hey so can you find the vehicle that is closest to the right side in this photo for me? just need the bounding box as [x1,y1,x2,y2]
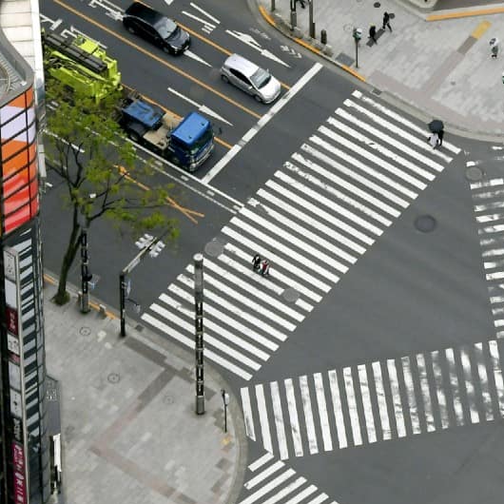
[219,55,283,105]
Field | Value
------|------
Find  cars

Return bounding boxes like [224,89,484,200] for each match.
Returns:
[219,55,283,105]
[118,0,195,56]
